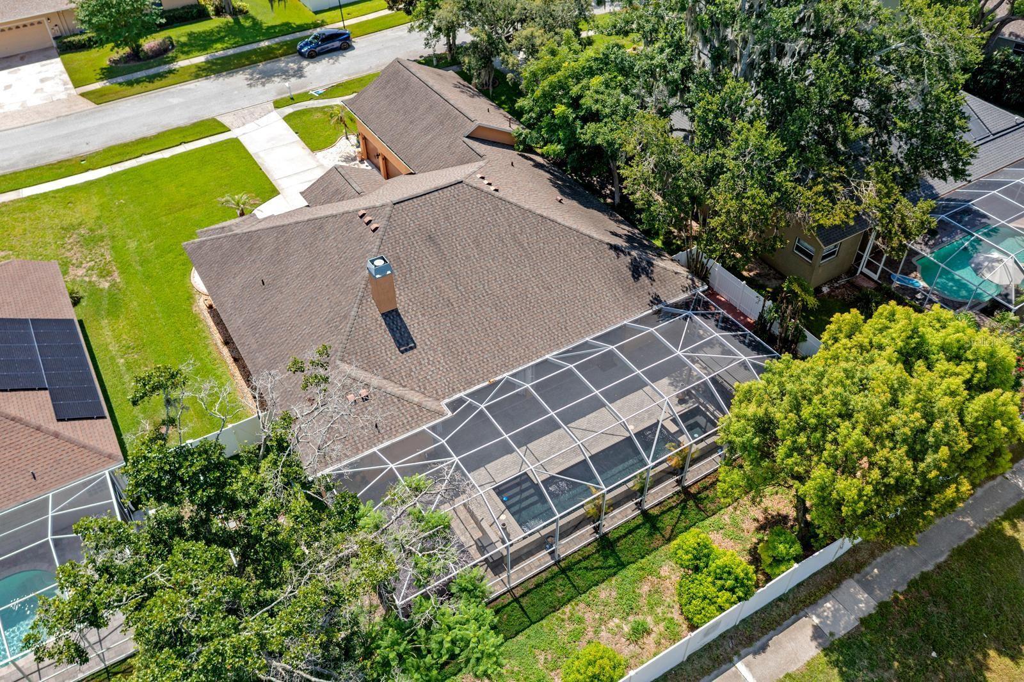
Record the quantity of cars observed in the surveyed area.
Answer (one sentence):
The count comes to 1 car.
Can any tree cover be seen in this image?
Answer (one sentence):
Yes, the picture does contain tree cover.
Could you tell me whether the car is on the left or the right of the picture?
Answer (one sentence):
It is on the left.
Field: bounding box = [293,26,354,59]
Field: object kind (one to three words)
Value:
car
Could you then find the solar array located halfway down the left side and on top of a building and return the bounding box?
[0,317,105,421]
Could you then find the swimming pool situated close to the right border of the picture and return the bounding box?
[887,204,1024,314]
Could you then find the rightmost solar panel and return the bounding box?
[937,106,982,141]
